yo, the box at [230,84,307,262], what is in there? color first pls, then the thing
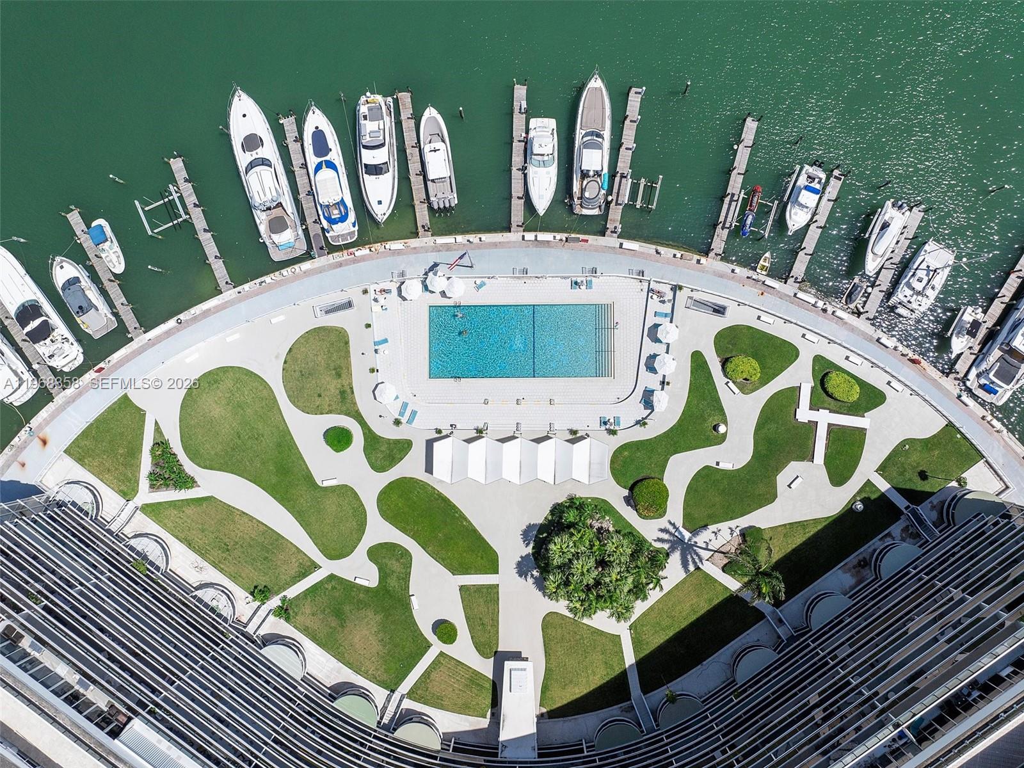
white boat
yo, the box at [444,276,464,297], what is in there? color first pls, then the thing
white umbrella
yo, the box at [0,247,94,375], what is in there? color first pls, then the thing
white boat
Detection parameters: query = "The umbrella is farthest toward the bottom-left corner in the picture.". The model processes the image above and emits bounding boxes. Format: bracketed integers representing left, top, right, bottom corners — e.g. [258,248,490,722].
[375,382,397,404]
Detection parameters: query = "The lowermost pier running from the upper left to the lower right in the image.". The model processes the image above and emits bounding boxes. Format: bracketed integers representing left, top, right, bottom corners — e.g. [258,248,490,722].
[0,299,64,402]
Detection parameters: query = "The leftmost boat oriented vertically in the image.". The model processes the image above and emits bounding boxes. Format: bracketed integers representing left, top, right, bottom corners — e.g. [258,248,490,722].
[0,327,39,410]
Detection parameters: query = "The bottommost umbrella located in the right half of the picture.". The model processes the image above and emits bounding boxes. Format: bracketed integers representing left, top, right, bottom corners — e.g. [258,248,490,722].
[649,391,670,412]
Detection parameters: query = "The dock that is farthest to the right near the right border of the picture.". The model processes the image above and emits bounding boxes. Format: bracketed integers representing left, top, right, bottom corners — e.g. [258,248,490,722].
[947,242,1024,381]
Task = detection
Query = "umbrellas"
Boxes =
[375,382,397,404]
[655,353,676,375]
[426,271,447,292]
[649,391,670,412]
[656,322,678,344]
[444,276,464,297]
[401,278,424,301]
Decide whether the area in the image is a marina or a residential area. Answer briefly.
marina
